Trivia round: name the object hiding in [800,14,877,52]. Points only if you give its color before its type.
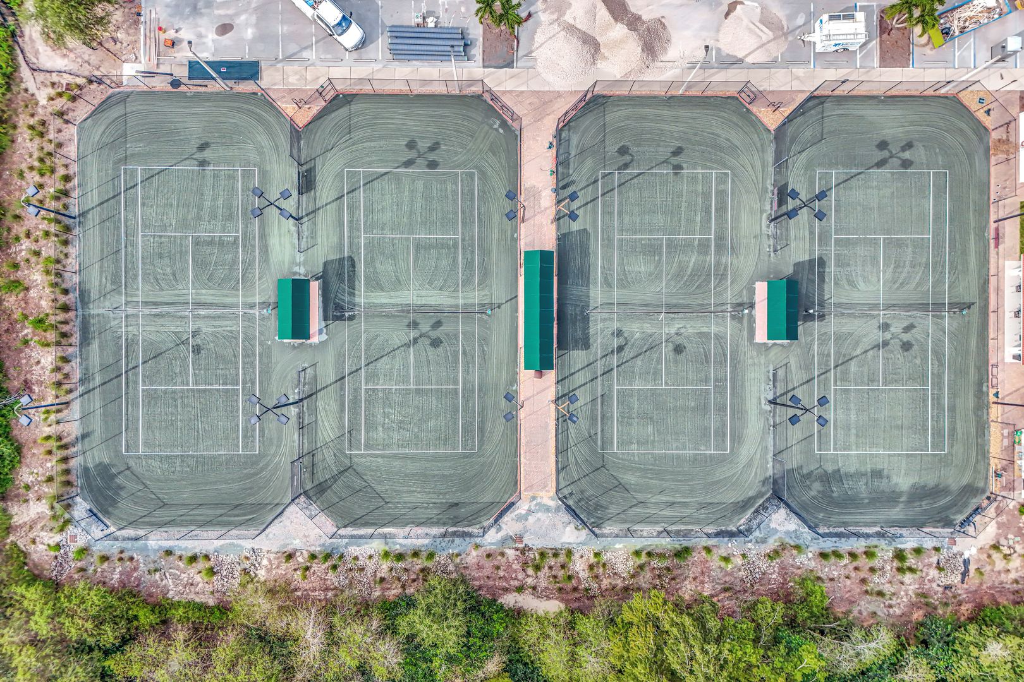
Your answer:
white trailer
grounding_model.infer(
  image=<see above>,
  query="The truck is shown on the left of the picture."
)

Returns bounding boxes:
[293,0,363,50]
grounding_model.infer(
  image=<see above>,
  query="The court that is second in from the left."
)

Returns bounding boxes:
[300,92,522,530]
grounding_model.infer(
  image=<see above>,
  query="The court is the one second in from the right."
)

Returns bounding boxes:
[555,93,775,529]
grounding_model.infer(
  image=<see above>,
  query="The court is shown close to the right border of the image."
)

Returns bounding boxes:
[773,93,992,528]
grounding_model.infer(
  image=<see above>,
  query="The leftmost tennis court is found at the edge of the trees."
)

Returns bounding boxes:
[76,90,300,530]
